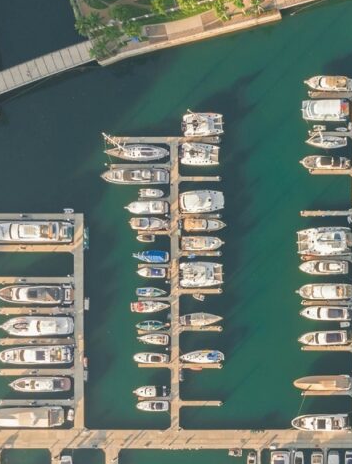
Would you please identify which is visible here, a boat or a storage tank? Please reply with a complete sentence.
There is a boat in the scene.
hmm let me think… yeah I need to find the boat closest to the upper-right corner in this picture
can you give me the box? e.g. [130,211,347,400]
[303,74,352,93]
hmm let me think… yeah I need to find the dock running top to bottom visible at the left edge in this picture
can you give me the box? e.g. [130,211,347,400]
[0,211,85,430]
